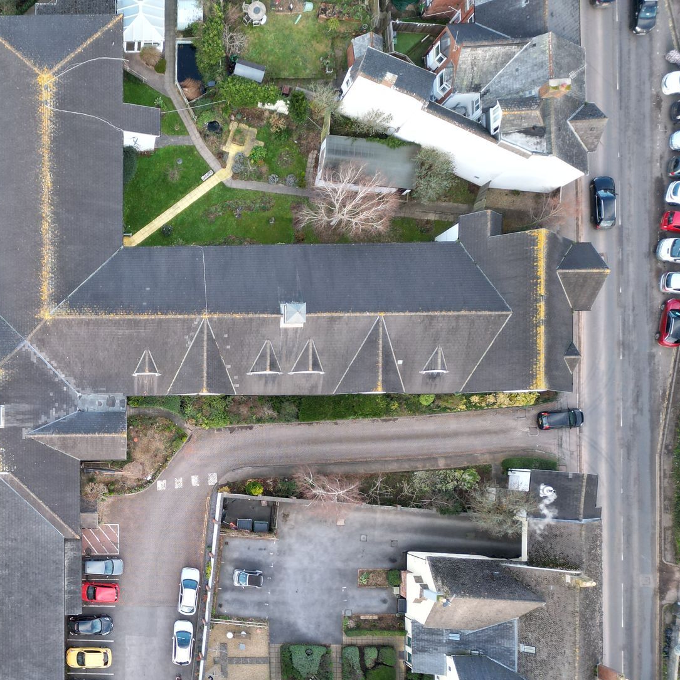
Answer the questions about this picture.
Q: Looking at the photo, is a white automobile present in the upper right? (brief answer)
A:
Yes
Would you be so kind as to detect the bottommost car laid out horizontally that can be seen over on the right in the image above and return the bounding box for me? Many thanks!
[535,407,581,429]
